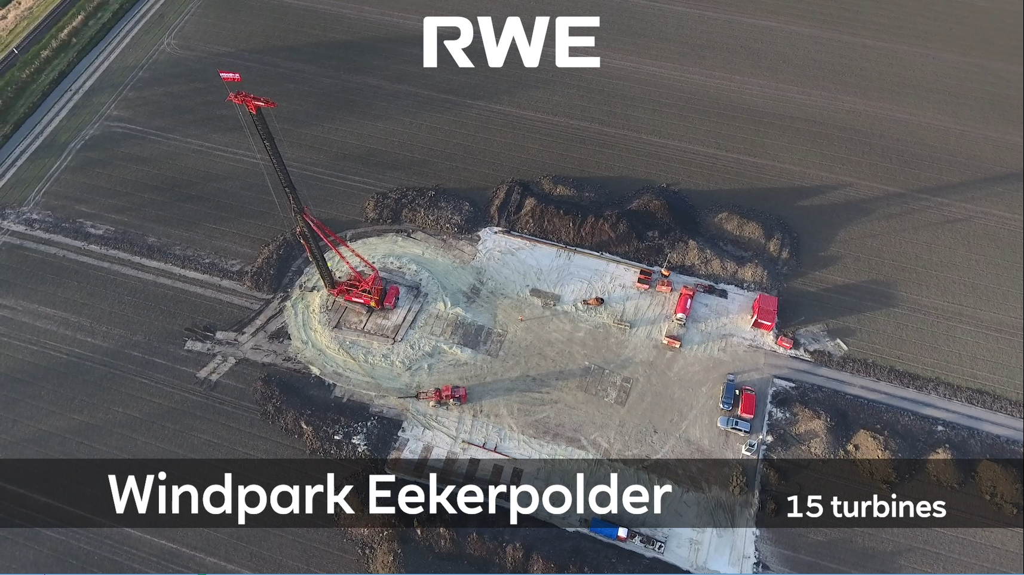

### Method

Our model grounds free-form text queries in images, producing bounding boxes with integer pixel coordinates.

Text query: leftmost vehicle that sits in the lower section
[397,387,469,409]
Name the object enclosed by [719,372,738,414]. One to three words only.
car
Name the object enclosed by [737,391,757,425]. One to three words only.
vehicle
